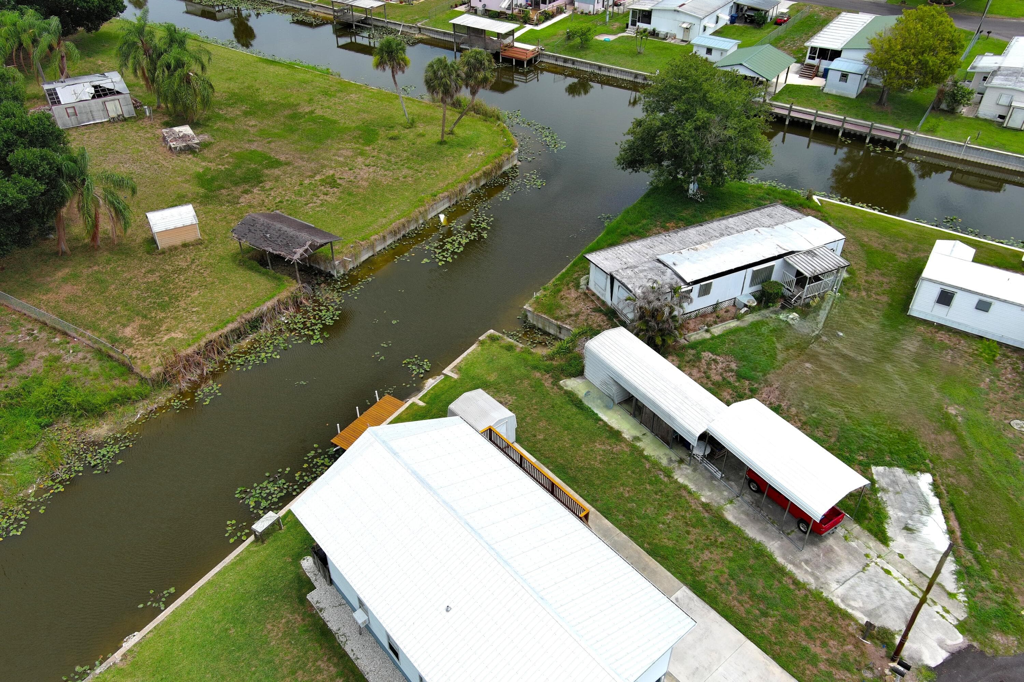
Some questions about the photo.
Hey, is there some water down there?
Yes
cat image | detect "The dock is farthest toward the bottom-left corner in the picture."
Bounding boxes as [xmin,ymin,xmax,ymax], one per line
[330,390,405,460]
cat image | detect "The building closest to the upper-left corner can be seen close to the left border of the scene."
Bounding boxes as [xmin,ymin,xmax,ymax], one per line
[45,74,136,126]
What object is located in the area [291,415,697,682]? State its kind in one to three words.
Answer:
house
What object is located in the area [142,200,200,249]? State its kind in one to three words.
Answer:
shed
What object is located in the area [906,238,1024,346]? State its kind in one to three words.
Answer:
house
